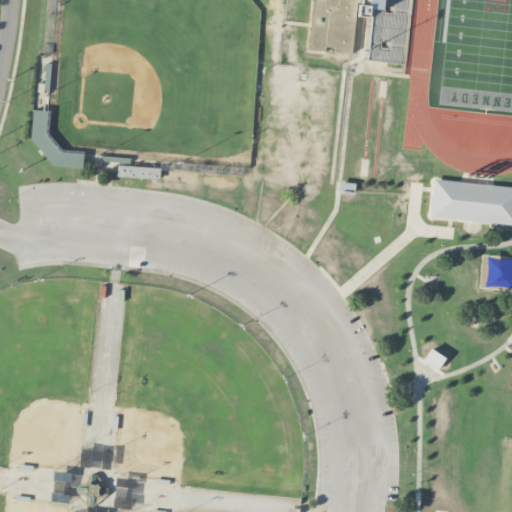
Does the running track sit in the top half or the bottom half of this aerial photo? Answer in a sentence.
Seen from above, the running track lies in the top half of the view.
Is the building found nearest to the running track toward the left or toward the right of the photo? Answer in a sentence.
The building found nearest to the running track sits on the right side.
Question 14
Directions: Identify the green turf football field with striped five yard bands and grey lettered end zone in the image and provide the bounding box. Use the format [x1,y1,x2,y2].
[430,0,512,117]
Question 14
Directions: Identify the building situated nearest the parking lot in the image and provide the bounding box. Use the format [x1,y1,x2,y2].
[118,163,162,180]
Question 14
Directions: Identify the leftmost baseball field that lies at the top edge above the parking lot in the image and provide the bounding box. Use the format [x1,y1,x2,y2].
[54,0,260,172]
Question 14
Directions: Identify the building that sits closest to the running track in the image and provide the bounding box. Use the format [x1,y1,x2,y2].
[432,180,512,226]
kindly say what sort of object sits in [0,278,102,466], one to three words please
baseball field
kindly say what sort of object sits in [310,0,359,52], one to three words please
building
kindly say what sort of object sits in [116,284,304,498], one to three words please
baseball field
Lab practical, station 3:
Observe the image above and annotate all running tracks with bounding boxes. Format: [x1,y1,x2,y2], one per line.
[404,0,512,176]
